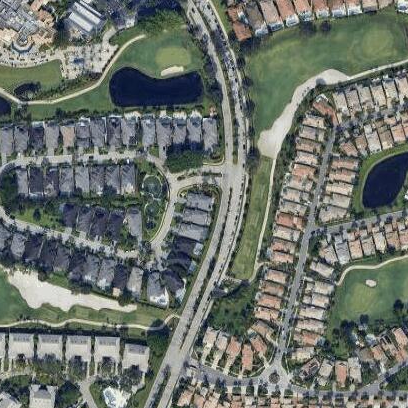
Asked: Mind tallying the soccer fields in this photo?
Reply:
0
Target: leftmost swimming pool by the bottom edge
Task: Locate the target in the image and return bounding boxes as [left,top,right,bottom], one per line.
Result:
[103,387,131,408]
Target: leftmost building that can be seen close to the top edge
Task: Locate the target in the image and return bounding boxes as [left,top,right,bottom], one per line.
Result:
[0,0,59,50]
